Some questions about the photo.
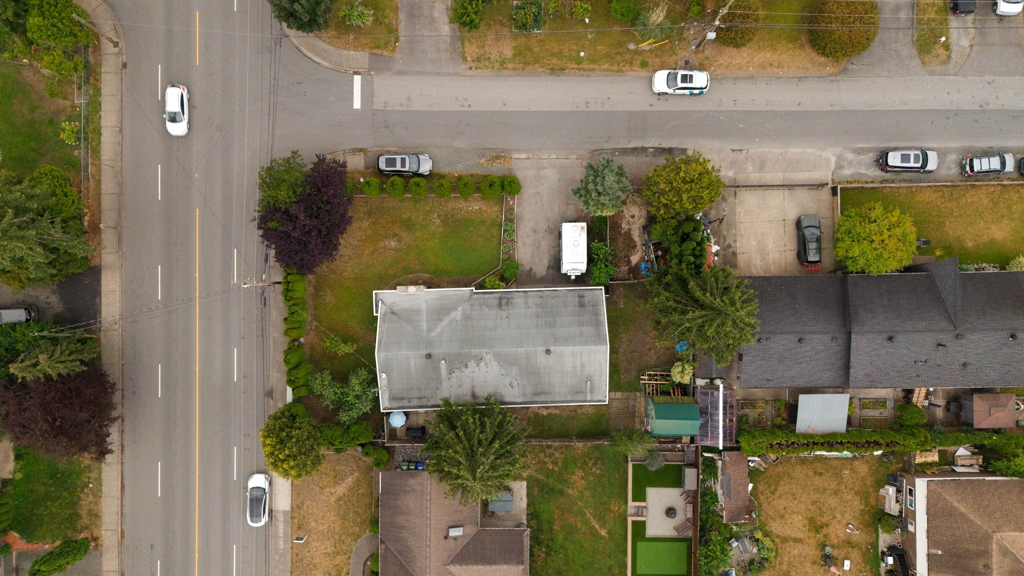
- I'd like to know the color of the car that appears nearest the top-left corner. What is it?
white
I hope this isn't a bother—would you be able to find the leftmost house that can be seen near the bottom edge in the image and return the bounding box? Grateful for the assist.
[378,469,530,576]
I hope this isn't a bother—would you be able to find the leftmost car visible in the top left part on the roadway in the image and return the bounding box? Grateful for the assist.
[163,84,191,137]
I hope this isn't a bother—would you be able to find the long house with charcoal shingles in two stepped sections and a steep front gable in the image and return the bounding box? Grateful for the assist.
[737,257,1024,389]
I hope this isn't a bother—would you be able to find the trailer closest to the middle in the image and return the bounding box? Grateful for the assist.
[555,220,588,287]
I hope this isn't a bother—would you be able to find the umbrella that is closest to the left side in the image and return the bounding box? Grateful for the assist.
[388,412,407,428]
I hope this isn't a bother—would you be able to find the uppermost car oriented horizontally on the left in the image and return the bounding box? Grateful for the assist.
[376,150,433,177]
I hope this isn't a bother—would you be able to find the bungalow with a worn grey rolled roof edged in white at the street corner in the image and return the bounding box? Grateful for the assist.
[372,285,611,413]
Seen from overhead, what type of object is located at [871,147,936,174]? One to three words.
car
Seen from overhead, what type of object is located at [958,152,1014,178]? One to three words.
car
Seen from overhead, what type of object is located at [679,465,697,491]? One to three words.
shed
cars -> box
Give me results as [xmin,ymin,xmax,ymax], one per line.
[651,69,709,97]
[958,152,1014,178]
[163,84,191,137]
[948,0,980,15]
[871,147,936,174]
[245,470,273,528]
[795,212,823,274]
[376,150,433,177]
[990,0,1019,16]
[0,302,39,327]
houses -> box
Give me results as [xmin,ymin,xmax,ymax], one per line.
[378,469,530,576]
[372,285,611,413]
[737,257,1024,389]
[890,472,1024,576]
